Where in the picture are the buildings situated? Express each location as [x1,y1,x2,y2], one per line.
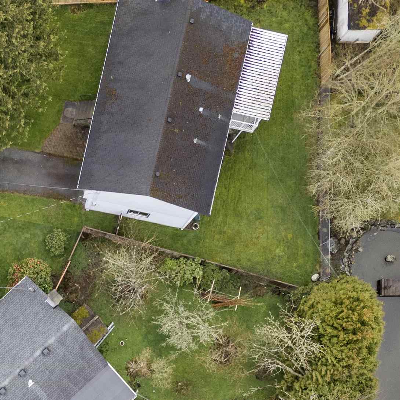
[0,275,137,400]
[76,0,256,231]
[333,0,390,48]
